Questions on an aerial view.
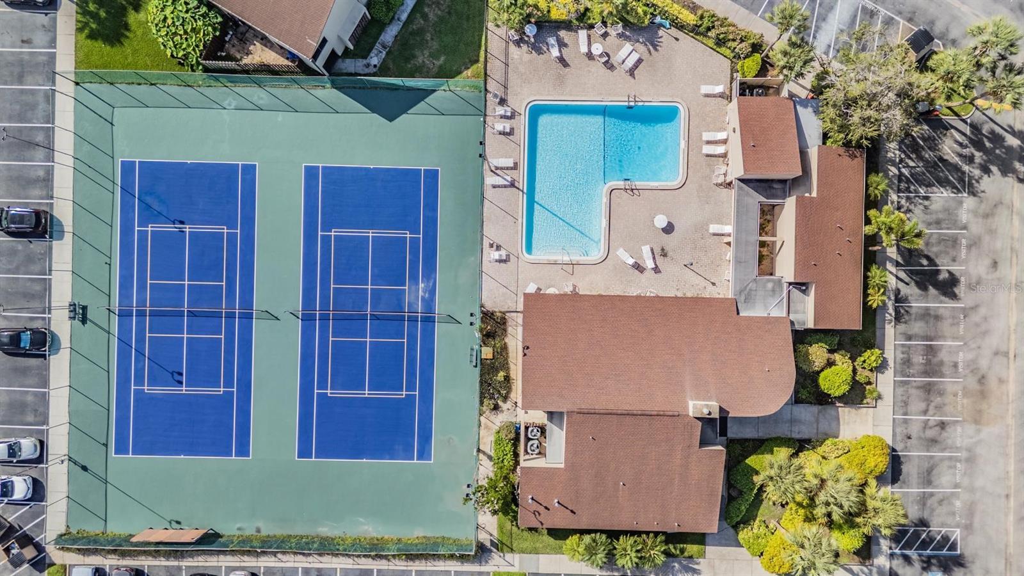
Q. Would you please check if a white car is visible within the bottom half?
Yes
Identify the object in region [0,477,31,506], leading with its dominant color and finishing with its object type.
white car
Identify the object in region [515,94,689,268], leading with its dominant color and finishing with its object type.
blue swimming pool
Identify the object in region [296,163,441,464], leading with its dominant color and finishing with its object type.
blue tennis court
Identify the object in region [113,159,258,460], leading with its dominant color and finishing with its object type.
blue tennis court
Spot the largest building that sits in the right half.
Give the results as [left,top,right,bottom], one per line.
[518,294,796,532]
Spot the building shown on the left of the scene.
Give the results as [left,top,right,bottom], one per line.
[205,0,379,76]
